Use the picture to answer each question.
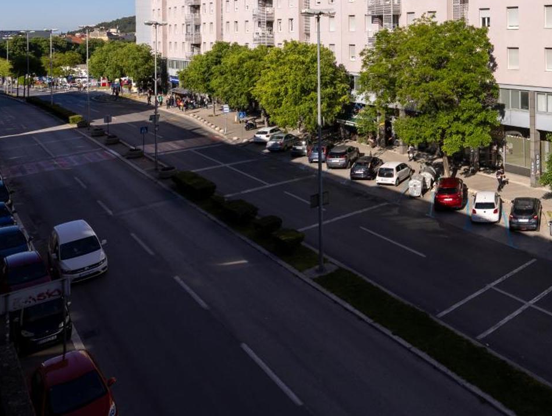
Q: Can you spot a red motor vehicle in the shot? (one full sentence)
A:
Yes, there's a red motor vehicle here.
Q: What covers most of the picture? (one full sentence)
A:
The scene is dominated by paved ground.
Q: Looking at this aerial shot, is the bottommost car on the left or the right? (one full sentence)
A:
You can find the bottommost car on the left side of the picture.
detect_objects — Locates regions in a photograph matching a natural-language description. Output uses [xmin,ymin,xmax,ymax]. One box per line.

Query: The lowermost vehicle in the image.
[22,348,132,416]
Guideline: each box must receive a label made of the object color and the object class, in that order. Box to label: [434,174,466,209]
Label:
red car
